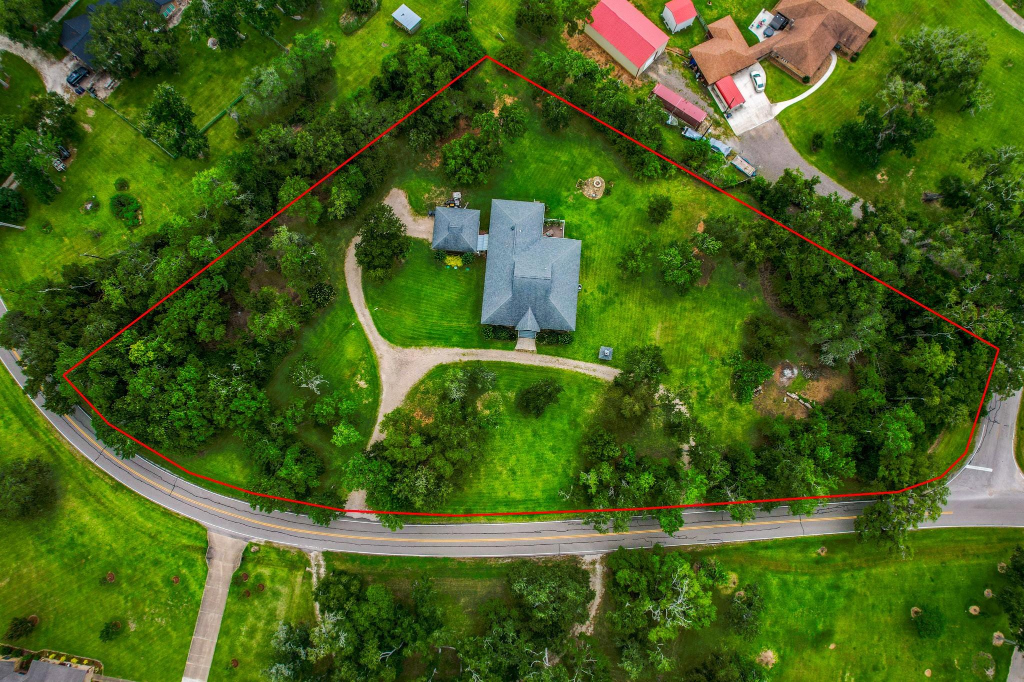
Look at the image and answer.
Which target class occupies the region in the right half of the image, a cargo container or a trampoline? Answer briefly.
cargo container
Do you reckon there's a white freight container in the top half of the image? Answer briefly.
No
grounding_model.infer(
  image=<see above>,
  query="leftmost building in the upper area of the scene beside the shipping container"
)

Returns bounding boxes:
[584,0,669,76]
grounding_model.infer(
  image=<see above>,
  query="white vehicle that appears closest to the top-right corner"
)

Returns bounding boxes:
[750,69,764,91]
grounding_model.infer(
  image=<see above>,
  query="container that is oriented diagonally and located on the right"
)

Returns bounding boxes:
[651,84,707,126]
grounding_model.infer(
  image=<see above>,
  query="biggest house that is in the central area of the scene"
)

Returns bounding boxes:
[481,197,582,340]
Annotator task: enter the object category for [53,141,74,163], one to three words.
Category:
truck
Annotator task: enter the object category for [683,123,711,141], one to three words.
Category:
boat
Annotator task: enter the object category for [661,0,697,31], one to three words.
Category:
shed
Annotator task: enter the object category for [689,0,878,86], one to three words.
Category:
house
